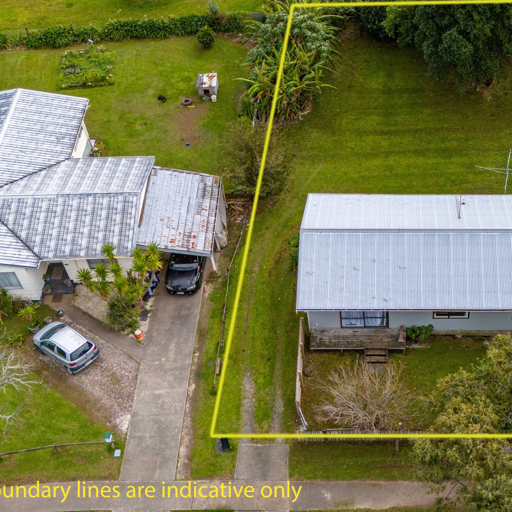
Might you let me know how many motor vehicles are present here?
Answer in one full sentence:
The count of motor vehicles comes to 2.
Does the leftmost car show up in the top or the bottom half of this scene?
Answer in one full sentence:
Seen from above, the leftmost car lies in the bottom half of the view.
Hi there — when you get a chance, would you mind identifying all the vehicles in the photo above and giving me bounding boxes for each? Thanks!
[165,253,208,296]
[27,316,102,377]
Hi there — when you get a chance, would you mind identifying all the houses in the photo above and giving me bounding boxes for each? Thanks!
[294,189,512,332]
[0,84,228,299]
